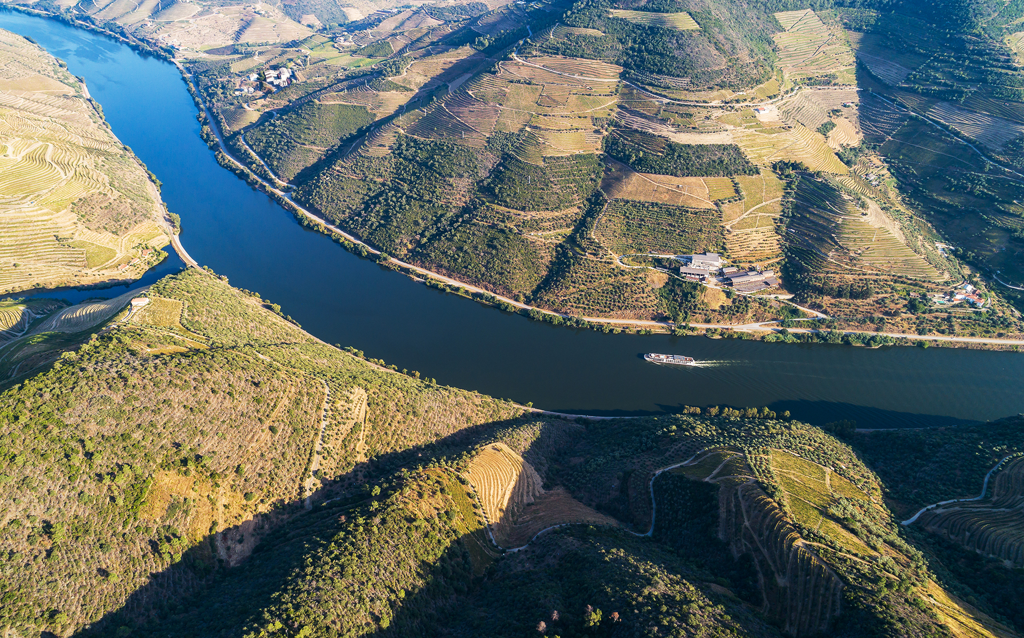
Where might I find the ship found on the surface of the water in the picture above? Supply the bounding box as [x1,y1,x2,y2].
[645,353,695,367]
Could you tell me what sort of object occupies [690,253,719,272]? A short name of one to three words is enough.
building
